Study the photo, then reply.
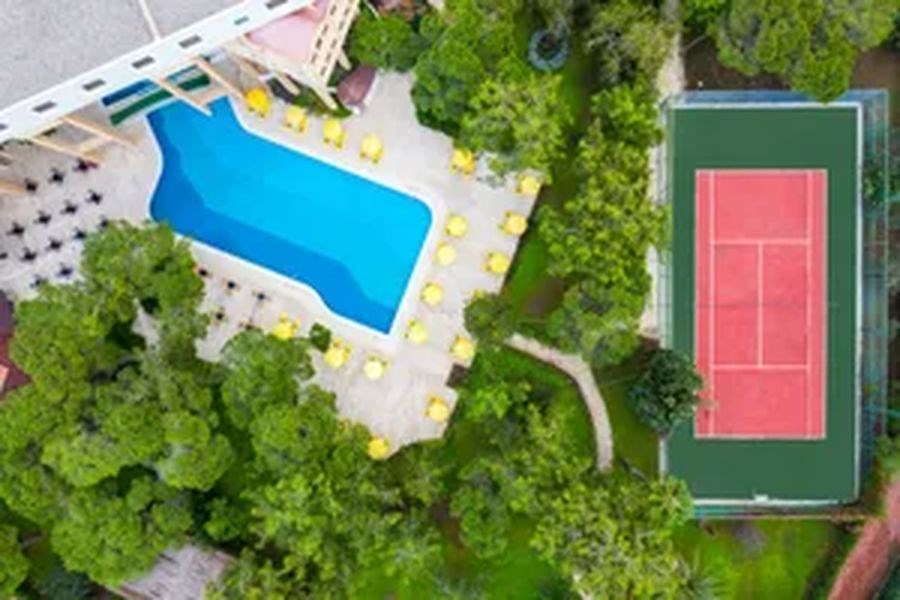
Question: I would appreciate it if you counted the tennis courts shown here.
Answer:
1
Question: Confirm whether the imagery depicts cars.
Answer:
No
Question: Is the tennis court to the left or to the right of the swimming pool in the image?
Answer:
to its right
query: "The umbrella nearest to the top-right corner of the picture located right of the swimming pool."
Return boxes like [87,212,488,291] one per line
[518,173,541,196]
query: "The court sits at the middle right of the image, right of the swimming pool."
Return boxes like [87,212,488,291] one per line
[657,99,863,503]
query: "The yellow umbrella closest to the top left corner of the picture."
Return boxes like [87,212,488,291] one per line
[247,90,270,112]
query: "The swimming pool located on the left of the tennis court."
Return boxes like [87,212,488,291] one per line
[144,96,436,334]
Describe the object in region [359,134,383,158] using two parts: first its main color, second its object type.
yellow umbrella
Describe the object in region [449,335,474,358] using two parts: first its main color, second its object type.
yellow umbrella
